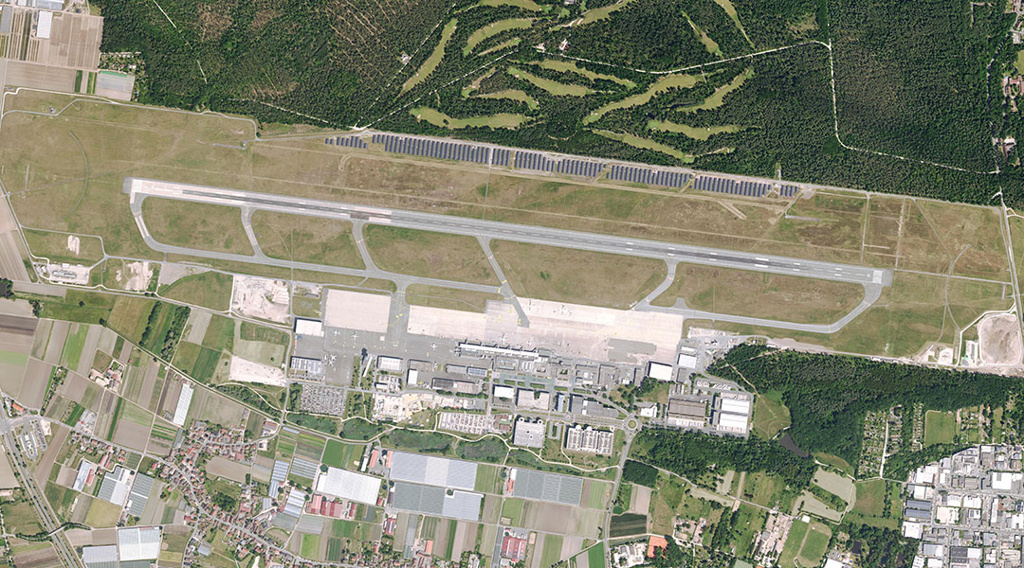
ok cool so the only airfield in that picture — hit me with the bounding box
[122,176,893,387]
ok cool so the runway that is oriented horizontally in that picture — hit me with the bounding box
[132,177,882,285]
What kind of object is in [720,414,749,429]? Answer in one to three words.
building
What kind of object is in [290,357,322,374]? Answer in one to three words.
hangar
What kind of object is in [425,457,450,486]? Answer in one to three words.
greenhouse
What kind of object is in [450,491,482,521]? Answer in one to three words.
greenhouse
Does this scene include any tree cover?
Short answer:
Yes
